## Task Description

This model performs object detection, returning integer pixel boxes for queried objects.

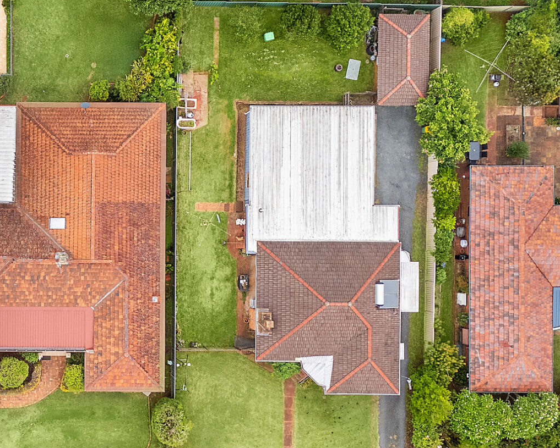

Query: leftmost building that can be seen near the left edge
[0,101,168,402]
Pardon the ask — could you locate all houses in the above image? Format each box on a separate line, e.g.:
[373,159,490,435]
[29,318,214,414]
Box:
[0,101,168,402]
[465,164,560,394]
[245,105,428,396]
